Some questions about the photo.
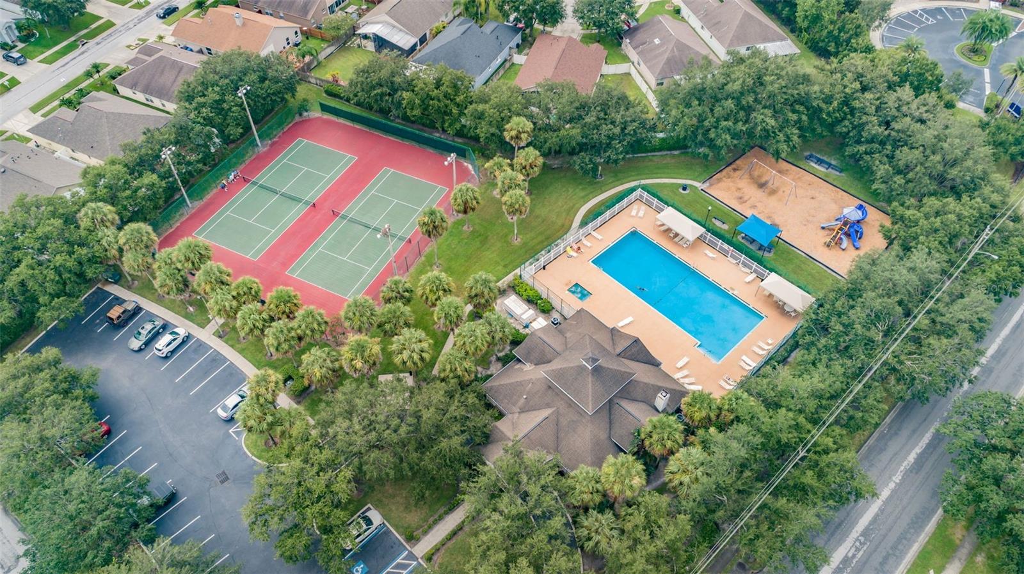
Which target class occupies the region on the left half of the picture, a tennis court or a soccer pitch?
tennis court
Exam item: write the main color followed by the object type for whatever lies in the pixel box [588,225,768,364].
blue swimming pool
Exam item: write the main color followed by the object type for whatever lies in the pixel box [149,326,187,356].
white car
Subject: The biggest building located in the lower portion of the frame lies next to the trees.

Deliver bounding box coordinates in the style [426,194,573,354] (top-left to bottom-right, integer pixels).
[481,307,689,479]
